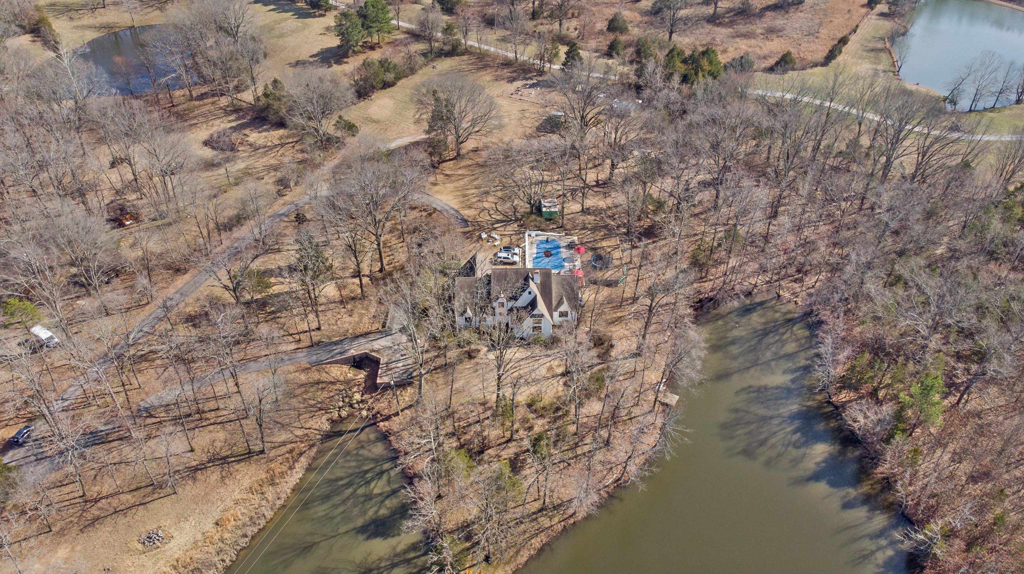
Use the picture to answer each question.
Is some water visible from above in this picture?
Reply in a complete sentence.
Yes, some water is visible.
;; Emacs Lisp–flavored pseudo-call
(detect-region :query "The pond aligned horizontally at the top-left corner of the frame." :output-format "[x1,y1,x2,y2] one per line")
[58,24,208,99]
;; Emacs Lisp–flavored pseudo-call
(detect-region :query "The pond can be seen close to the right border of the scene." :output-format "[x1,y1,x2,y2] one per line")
[893,0,1024,111]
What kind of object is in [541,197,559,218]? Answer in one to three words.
shed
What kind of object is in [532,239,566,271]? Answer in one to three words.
swimming pool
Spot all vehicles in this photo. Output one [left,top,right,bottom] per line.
[498,253,519,264]
[498,244,520,255]
[4,422,37,448]
[27,325,58,348]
